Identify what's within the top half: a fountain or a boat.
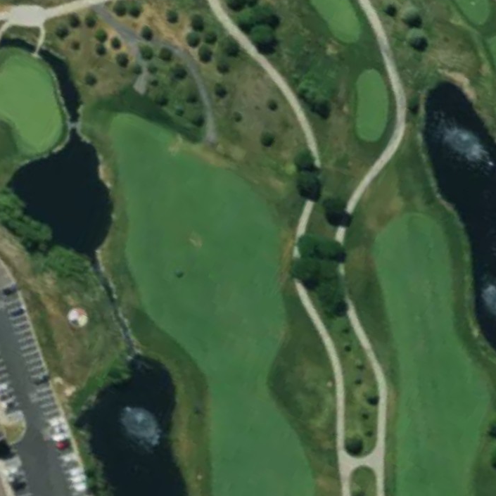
fountain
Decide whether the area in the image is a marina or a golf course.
golf course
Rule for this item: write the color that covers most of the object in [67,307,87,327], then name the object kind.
white tent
